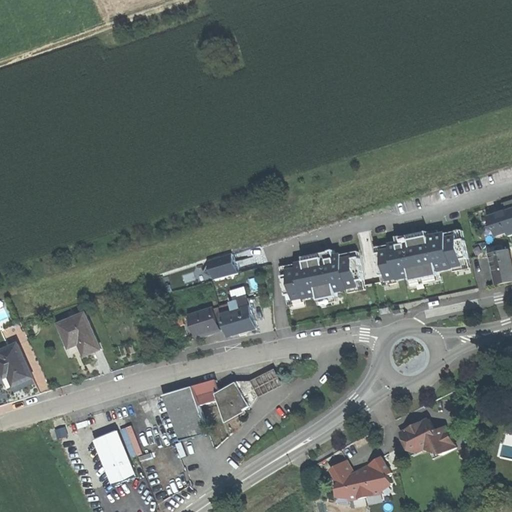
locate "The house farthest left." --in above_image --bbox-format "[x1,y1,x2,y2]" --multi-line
[0,342,34,391]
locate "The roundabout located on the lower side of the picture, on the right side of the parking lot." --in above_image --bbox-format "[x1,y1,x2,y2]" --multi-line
[378,324,442,389]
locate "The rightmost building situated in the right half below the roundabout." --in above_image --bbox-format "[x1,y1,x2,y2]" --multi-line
[399,418,456,458]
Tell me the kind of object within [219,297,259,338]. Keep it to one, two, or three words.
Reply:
house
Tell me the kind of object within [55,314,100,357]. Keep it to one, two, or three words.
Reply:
house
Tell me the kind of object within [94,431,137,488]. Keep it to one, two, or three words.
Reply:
building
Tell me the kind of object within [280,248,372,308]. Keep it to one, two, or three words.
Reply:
building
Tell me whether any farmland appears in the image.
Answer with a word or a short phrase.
Yes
